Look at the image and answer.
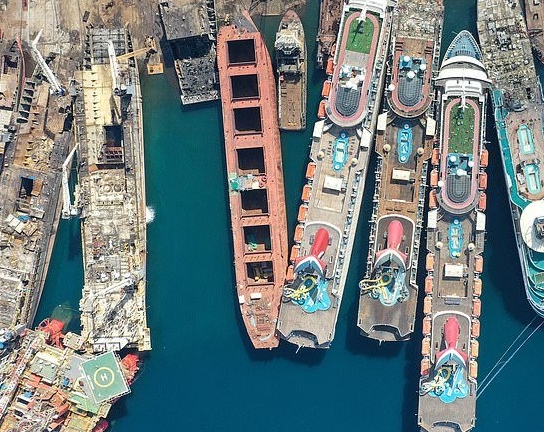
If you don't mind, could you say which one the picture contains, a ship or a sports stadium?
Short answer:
ship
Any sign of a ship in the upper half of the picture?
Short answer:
Yes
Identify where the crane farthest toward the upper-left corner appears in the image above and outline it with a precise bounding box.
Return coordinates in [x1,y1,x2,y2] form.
[31,34,71,100]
